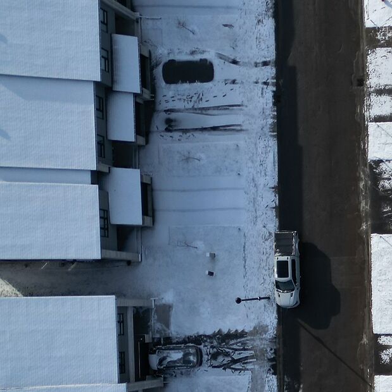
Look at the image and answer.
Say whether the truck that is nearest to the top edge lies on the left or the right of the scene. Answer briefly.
right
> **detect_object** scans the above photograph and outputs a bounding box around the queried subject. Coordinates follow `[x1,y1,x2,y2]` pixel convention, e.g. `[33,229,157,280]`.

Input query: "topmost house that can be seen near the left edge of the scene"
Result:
[0,0,154,106]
